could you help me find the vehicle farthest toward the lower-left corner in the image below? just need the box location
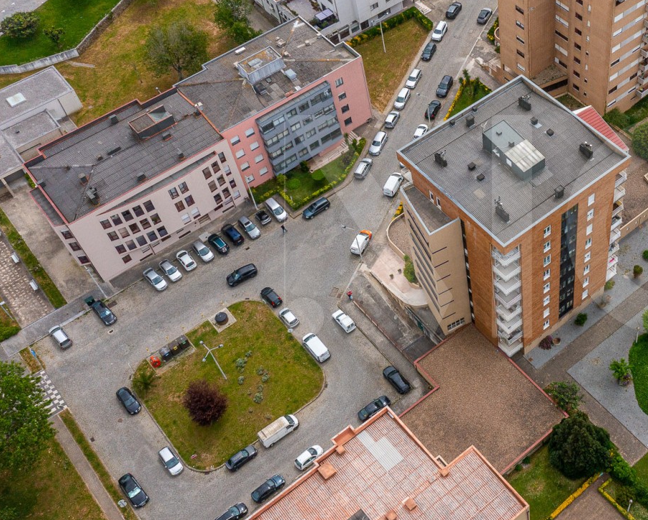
[118,473,150,510]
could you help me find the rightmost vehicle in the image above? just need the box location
[476,8,494,25]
